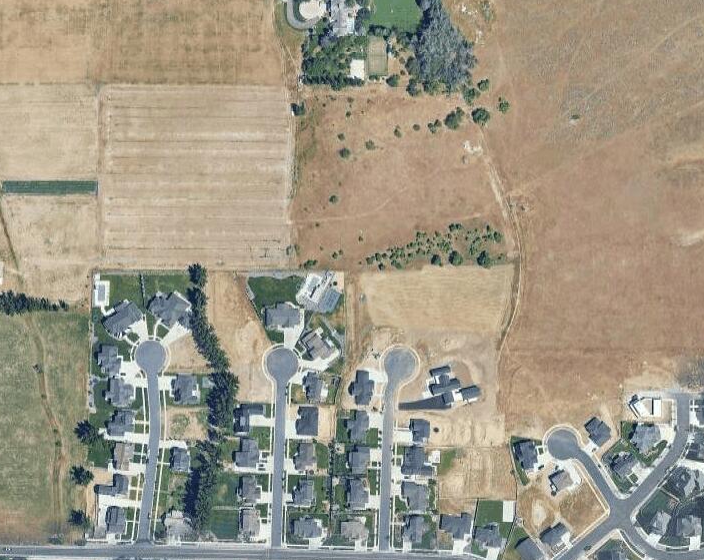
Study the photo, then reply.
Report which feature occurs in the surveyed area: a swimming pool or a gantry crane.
swimming pool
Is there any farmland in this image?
Yes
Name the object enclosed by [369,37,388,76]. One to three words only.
tennis court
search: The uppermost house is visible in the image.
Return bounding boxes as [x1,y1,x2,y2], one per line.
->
[329,0,355,36]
